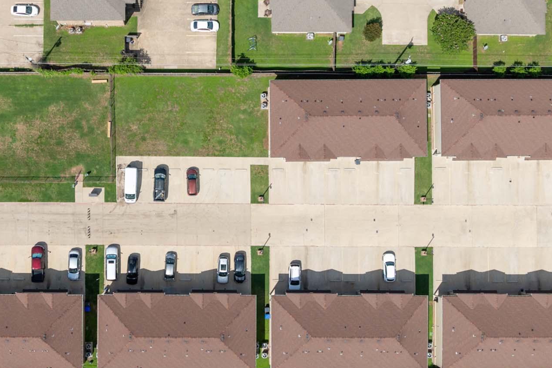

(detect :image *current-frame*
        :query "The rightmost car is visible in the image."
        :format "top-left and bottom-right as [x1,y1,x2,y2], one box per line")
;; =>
[382,253,396,281]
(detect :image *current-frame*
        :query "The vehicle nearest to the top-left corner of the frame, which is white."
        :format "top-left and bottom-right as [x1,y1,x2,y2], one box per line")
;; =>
[11,2,39,16]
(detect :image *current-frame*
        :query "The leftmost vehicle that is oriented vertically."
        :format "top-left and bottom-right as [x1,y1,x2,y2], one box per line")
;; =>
[31,245,45,282]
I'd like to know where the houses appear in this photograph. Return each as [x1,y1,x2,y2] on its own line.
[432,78,552,161]
[97,288,257,368]
[270,288,429,368]
[461,0,545,36]
[50,0,143,25]
[433,288,552,368]
[0,287,85,368]
[269,80,428,162]
[271,0,353,34]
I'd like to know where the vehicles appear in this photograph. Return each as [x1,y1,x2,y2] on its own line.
[288,262,302,288]
[185,167,199,196]
[104,246,118,279]
[31,245,45,282]
[163,252,177,279]
[216,256,230,283]
[233,251,246,281]
[191,2,219,15]
[153,167,167,200]
[11,2,39,16]
[67,251,80,279]
[382,253,396,281]
[191,18,219,33]
[123,168,137,202]
[124,254,139,283]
